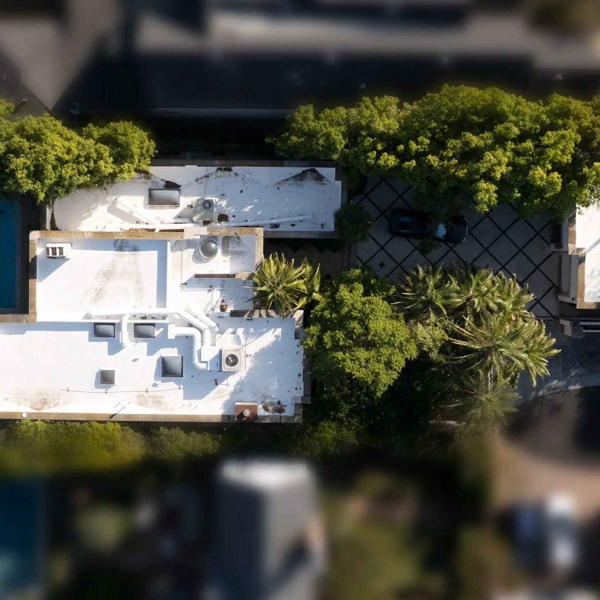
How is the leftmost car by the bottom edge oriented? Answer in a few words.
vertically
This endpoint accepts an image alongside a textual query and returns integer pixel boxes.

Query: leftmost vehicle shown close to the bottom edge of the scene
[511,494,551,578]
